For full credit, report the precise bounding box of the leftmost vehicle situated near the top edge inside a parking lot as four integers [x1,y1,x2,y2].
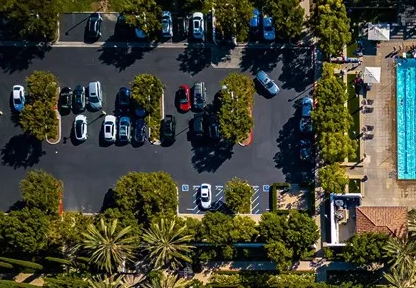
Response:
[85,10,101,38]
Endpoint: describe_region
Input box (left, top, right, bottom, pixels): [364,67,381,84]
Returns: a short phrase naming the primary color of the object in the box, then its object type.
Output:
white umbrella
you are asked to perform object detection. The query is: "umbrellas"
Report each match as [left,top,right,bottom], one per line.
[368,21,390,43]
[364,67,381,84]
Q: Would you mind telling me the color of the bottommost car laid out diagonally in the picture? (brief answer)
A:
blue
